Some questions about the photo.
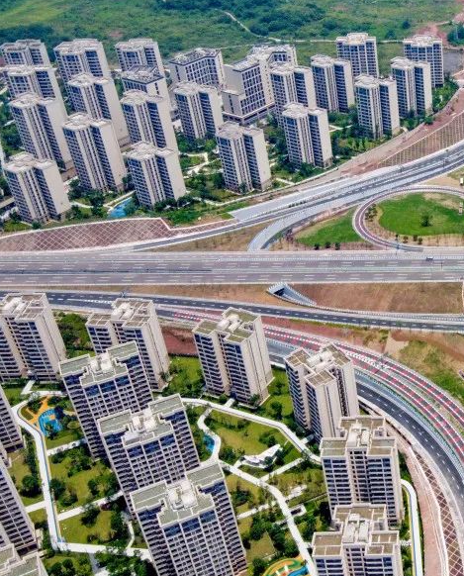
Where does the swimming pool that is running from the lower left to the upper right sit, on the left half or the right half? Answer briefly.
left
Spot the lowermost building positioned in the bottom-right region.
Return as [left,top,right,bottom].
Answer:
[312,512,406,576]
